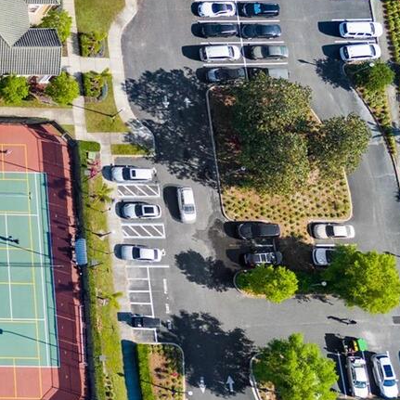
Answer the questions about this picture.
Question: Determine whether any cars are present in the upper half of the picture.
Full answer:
Yes, a car is visible in the upper half of the picture.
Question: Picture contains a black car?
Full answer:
Yes, this view includes a black car.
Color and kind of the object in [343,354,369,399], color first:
white truck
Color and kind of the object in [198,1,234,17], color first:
white car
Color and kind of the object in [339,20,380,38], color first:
white car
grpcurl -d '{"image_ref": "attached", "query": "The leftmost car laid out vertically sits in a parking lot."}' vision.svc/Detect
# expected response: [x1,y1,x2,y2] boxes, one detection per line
[174,184,199,226]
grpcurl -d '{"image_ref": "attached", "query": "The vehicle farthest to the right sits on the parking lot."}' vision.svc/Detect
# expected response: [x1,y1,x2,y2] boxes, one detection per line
[369,354,398,397]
